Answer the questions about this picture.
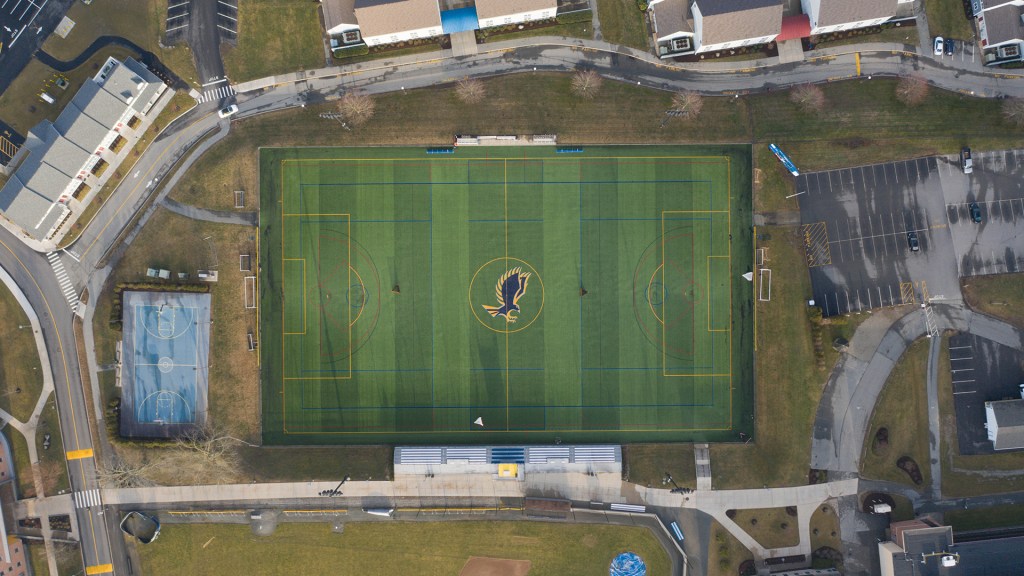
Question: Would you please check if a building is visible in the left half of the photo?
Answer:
Yes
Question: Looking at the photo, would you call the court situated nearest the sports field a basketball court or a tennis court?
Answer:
basketball court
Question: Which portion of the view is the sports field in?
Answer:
center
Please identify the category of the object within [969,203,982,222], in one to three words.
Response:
vehicle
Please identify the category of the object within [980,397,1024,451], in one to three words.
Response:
building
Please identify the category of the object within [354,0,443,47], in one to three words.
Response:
house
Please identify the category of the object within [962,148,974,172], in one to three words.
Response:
vehicle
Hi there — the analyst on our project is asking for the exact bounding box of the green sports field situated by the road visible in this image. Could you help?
[259,143,754,446]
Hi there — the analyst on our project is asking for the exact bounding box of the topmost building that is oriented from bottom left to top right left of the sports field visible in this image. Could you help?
[0,54,167,238]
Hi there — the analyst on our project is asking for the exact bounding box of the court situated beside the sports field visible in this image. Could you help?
[120,291,211,440]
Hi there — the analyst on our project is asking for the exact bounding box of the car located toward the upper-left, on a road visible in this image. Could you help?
[217,103,239,117]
